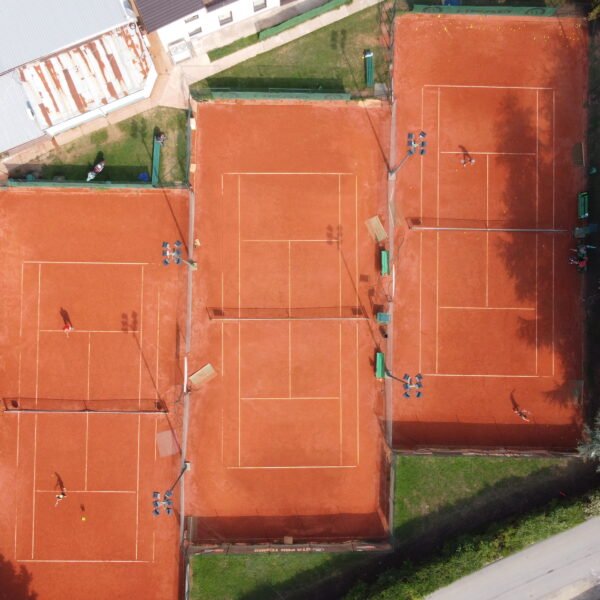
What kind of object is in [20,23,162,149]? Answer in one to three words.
shed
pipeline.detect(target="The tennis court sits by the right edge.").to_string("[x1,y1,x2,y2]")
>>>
[393,15,588,457]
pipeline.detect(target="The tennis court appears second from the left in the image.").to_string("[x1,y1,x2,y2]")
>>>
[187,100,393,547]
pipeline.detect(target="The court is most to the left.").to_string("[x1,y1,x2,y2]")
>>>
[0,188,191,600]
